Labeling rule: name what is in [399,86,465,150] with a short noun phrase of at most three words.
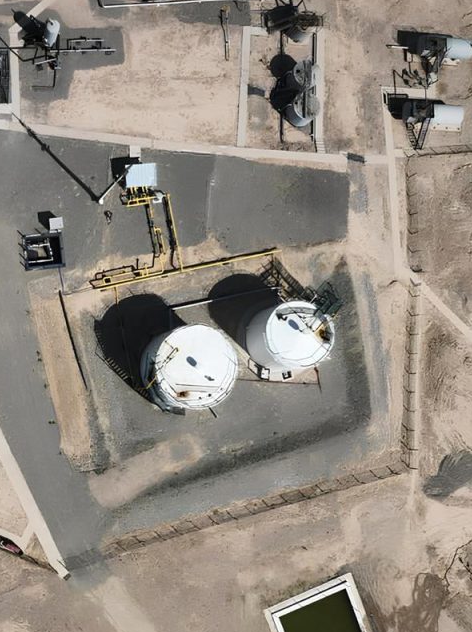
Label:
storage tank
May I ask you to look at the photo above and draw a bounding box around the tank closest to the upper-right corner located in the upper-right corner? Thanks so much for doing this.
[415,30,472,84]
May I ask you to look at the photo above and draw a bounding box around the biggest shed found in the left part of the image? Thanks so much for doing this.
[122,163,157,191]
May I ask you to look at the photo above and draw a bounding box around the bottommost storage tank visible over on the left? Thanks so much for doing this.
[135,324,240,417]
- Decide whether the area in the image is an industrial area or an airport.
industrial area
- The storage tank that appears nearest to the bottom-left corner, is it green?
No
